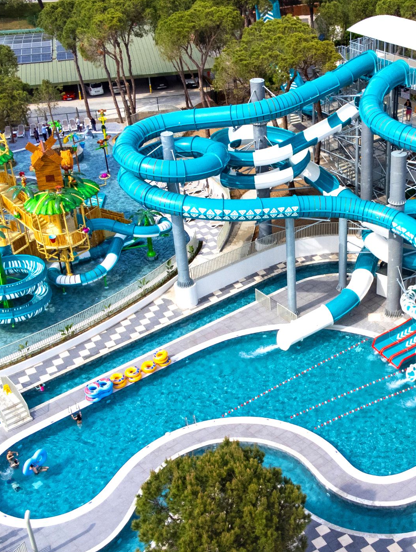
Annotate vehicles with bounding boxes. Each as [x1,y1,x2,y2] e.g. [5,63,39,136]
[59,85,76,99]
[109,80,129,93]
[183,73,202,84]
[87,82,106,96]
[151,75,170,89]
